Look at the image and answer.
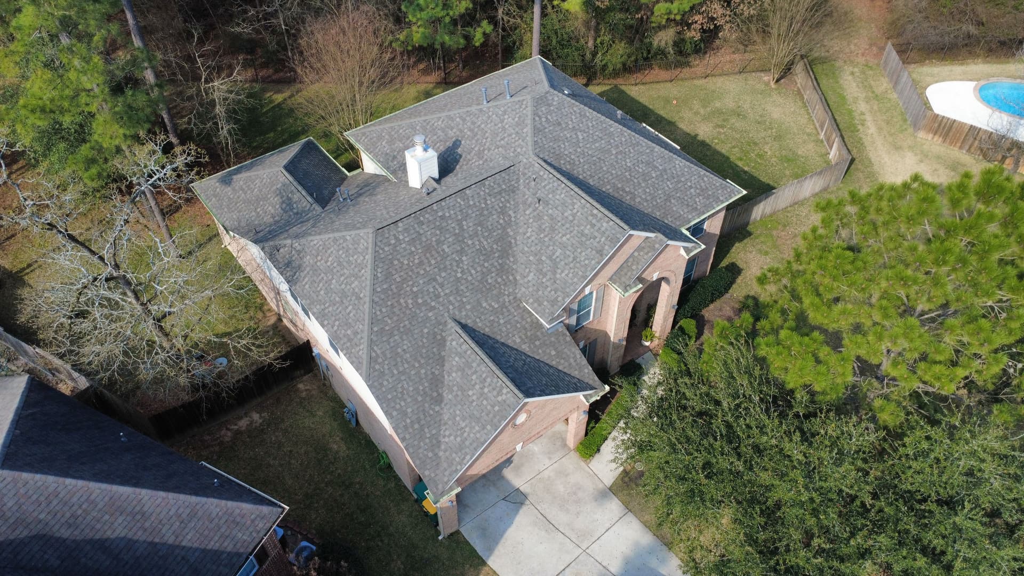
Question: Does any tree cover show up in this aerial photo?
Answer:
Yes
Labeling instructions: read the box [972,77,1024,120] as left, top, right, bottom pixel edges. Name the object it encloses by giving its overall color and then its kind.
blue swimming pool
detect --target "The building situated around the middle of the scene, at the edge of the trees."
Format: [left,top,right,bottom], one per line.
[191,56,749,544]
